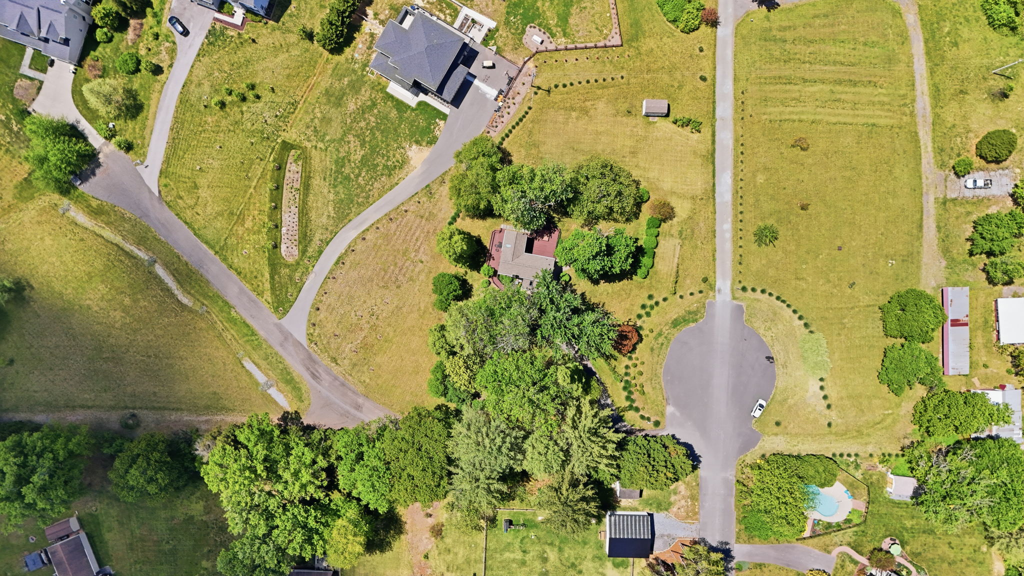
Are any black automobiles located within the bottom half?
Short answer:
No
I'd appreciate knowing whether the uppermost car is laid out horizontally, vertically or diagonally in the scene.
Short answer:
diagonally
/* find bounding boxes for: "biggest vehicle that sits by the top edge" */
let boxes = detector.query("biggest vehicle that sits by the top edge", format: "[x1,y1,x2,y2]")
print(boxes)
[169,16,189,37]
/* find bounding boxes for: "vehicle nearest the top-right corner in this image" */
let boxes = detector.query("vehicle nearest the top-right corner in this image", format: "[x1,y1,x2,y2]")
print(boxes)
[964,177,994,189]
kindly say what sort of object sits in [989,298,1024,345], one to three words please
building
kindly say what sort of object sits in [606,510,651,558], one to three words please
barn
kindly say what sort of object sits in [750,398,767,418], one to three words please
car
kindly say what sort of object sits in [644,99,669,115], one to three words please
shed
